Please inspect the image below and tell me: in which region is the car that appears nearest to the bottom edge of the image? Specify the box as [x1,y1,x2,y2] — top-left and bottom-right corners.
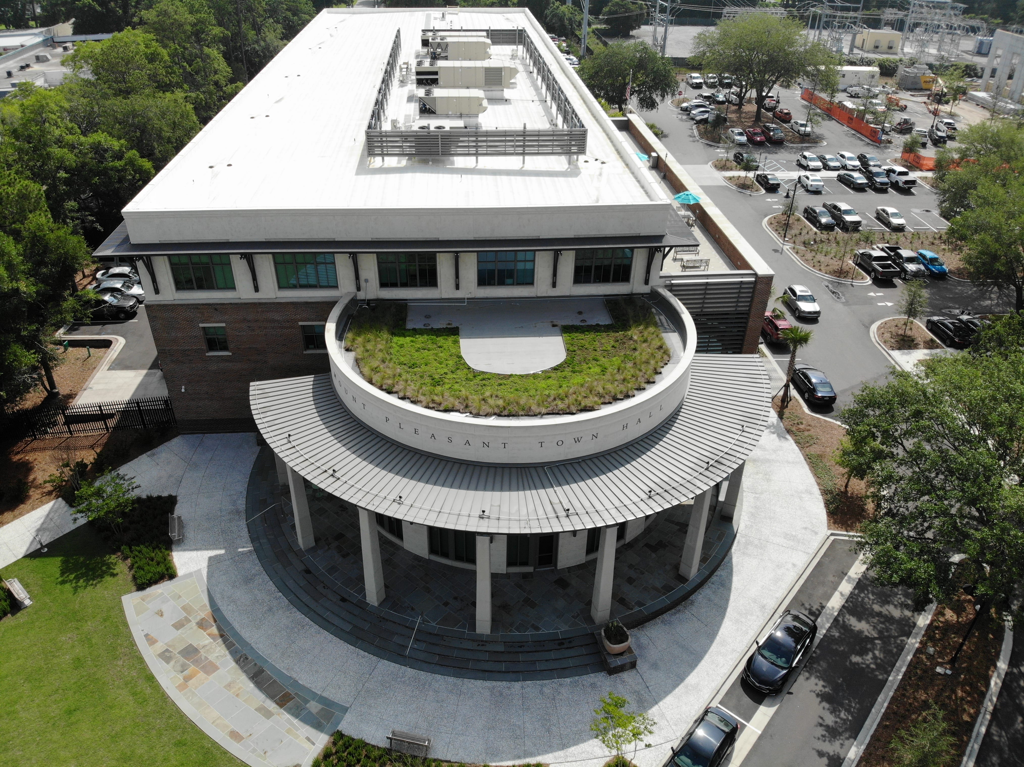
[660,705,740,767]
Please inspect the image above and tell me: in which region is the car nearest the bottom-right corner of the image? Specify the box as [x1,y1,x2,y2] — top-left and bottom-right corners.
[743,605,821,692]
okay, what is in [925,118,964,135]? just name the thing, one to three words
vehicle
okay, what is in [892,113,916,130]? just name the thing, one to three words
work vehicle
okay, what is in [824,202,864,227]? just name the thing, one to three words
truck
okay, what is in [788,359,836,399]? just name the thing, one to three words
car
